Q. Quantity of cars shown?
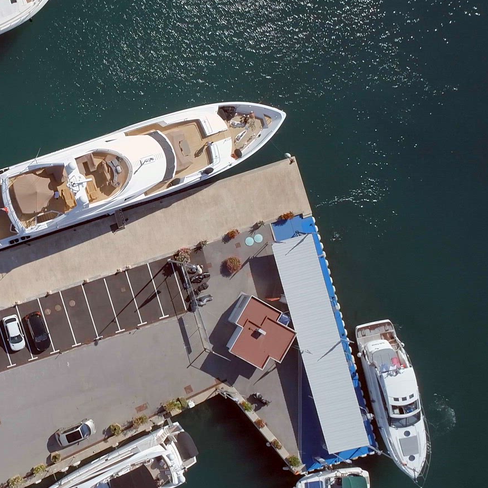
3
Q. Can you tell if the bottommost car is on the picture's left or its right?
left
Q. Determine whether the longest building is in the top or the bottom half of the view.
bottom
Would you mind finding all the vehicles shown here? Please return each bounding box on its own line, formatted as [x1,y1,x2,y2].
[54,419,95,447]
[25,311,48,351]
[193,284,209,294]
[187,266,204,272]
[190,274,208,283]
[253,394,271,406]
[2,314,24,352]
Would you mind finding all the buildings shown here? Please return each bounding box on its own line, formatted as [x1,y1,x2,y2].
[220,292,296,370]
[266,234,370,454]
